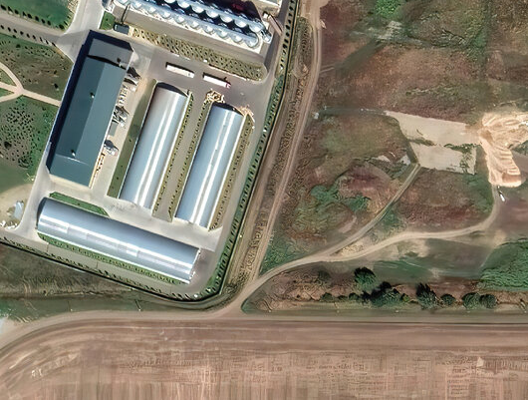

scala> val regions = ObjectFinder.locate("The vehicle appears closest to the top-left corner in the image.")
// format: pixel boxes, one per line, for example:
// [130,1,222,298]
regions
[164,64,194,78]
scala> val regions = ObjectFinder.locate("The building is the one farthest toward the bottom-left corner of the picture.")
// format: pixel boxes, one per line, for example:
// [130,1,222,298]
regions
[35,199,201,284]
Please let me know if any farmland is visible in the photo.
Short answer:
Yes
